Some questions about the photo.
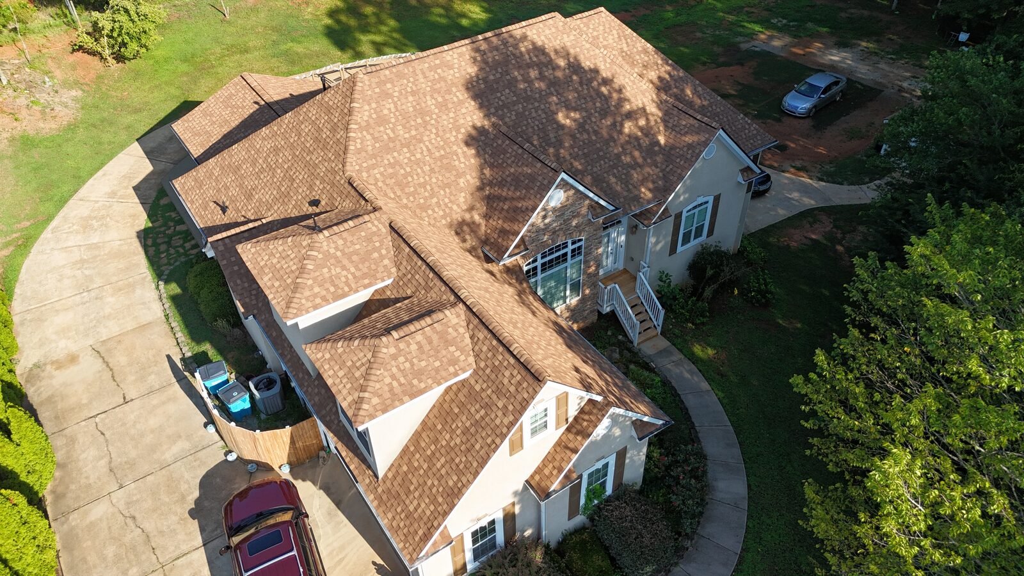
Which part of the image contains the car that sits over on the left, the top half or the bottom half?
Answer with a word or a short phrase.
bottom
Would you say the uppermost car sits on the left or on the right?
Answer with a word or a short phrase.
right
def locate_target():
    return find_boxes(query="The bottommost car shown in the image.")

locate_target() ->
[220,477,331,576]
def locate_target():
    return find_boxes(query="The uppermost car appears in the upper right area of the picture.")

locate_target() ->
[778,63,853,117]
